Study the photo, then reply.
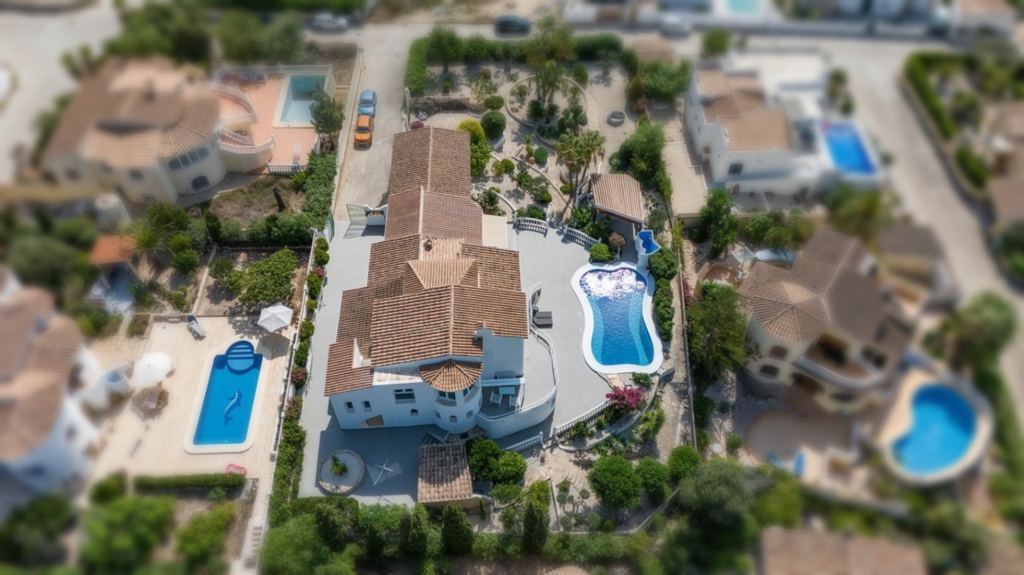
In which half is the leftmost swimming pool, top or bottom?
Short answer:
bottom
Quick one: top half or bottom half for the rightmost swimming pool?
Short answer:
bottom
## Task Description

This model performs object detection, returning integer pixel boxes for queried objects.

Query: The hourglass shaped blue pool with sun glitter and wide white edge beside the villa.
[572,261,663,373]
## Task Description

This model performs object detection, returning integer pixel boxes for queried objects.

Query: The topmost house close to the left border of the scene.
[36,62,262,206]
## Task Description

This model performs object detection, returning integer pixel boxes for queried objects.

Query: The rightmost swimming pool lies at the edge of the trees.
[873,371,989,493]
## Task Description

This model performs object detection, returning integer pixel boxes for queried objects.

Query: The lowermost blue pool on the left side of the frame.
[185,334,269,454]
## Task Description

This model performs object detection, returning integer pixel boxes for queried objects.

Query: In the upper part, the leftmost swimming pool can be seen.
[274,73,329,126]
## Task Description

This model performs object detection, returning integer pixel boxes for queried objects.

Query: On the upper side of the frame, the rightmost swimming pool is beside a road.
[809,117,890,192]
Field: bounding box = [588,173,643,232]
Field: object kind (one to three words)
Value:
building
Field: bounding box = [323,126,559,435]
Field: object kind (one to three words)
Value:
house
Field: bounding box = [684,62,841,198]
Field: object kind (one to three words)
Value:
house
